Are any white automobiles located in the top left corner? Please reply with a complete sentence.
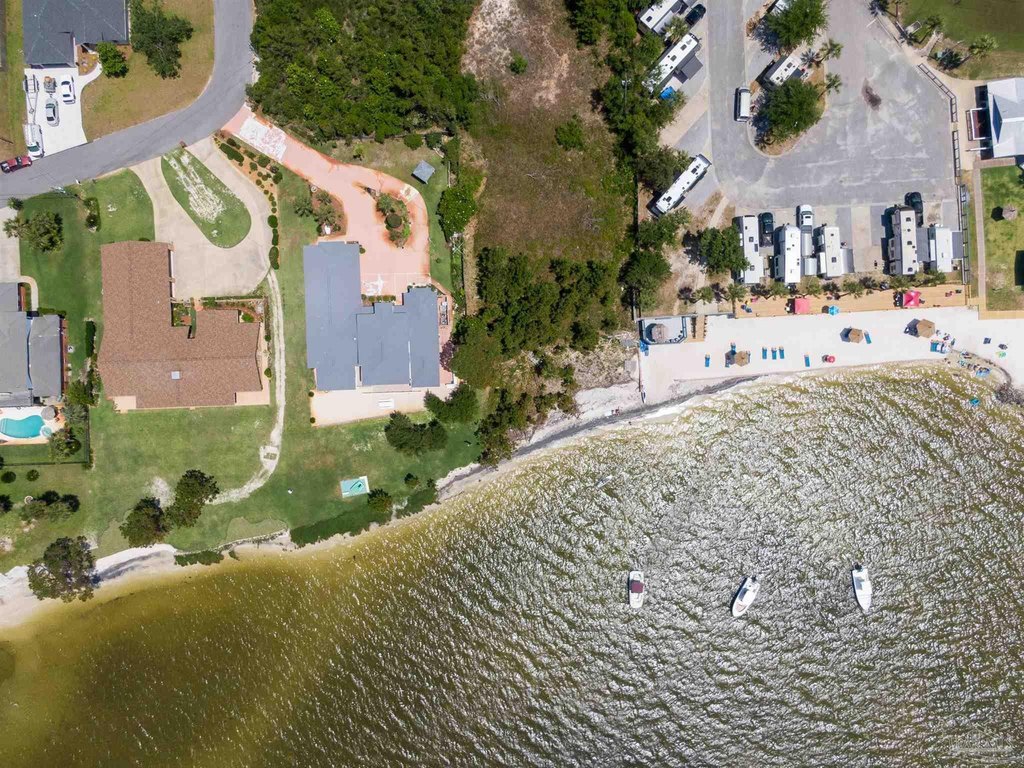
Yes, a white automobile appears in the top left corner.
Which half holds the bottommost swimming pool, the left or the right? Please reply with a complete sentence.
It is on the left.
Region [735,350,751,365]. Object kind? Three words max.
umbrella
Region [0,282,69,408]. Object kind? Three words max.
house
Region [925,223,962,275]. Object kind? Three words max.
camper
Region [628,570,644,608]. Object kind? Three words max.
boat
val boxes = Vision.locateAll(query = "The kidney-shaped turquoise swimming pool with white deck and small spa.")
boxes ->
[0,402,66,445]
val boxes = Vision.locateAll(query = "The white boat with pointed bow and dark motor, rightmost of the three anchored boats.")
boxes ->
[851,564,872,612]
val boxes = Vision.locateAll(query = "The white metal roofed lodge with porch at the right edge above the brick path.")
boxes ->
[968,79,1024,157]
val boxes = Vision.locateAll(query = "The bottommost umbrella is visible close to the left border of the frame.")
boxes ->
[42,406,57,420]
